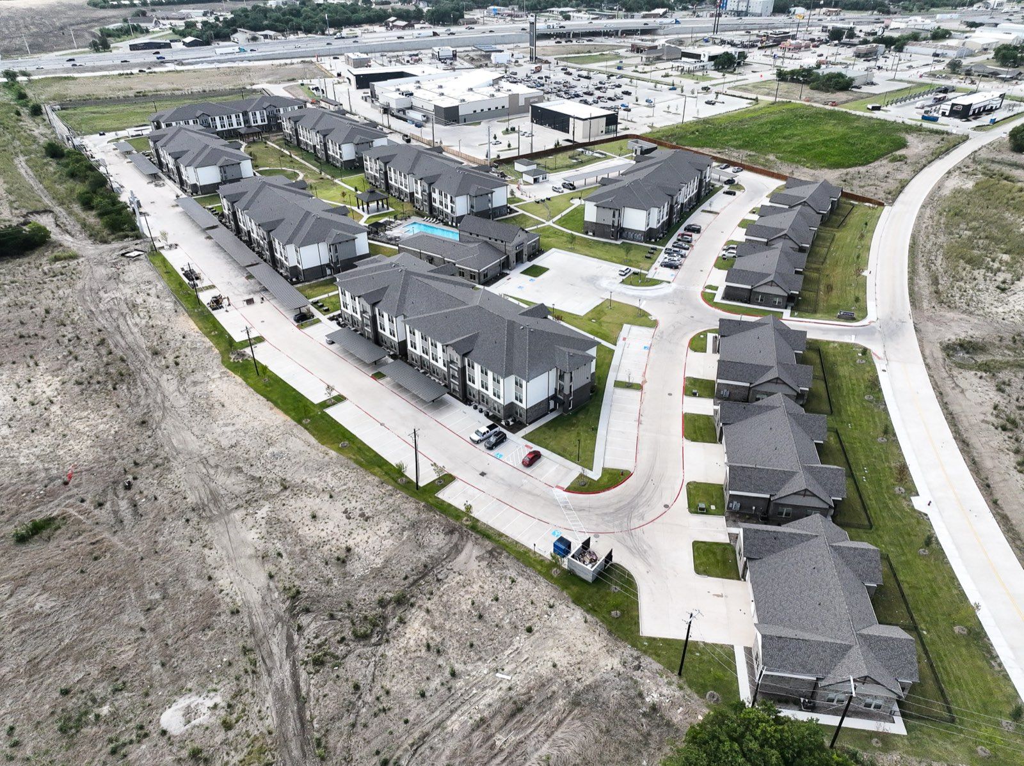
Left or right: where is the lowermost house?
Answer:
right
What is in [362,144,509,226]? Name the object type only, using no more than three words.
building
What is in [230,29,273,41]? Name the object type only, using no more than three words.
house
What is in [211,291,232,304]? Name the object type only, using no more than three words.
vehicle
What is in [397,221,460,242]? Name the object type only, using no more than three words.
swimming pool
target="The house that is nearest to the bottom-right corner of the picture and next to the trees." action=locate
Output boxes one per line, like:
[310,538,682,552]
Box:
[737,515,919,708]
